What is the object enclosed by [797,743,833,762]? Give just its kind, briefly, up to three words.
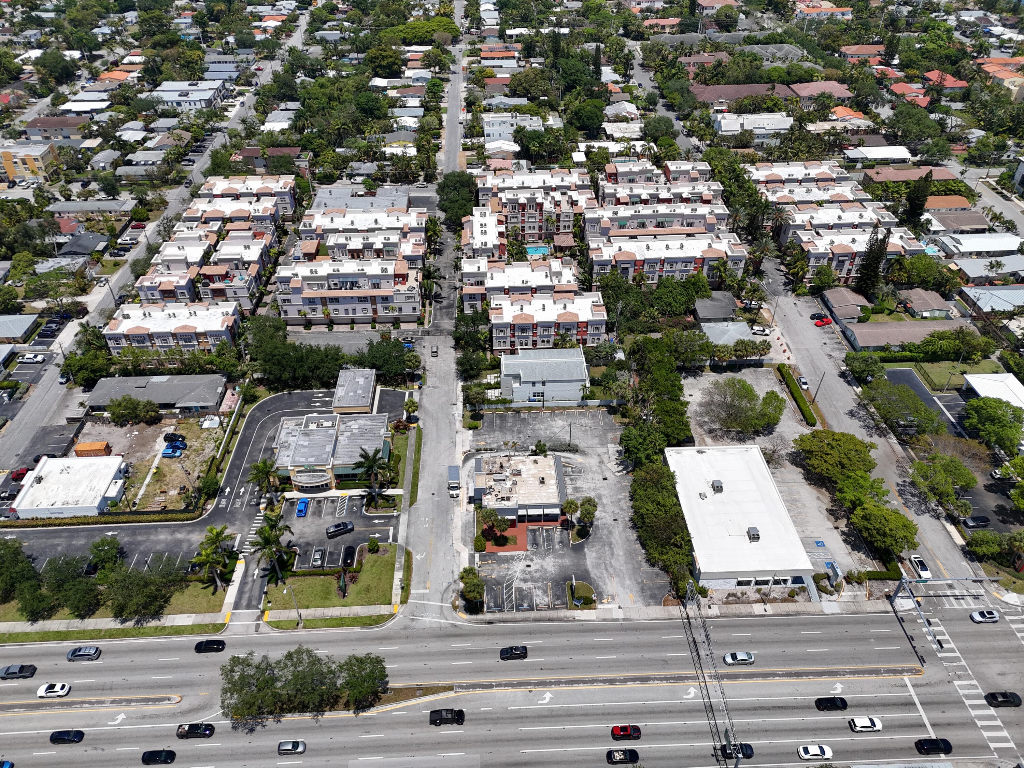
car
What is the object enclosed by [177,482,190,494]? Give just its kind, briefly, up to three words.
vehicle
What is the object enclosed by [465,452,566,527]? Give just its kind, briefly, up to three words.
building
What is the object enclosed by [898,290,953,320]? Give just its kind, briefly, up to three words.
house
